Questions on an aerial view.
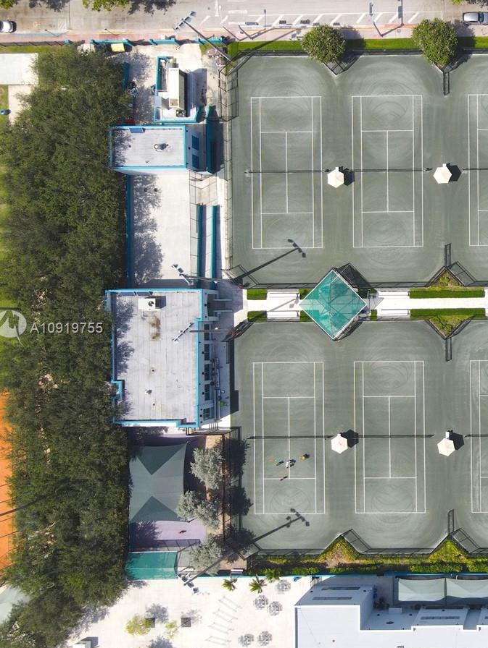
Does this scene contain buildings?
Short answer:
Yes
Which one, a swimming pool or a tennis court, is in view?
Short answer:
tennis court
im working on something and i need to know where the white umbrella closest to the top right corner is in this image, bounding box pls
[434,165,453,183]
